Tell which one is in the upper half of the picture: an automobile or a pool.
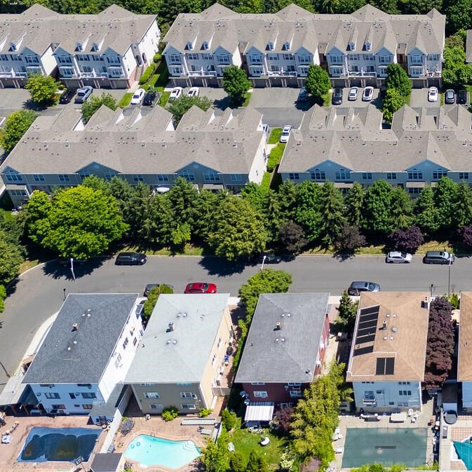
automobile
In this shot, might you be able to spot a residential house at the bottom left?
Yes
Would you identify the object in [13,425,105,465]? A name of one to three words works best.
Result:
swimming pool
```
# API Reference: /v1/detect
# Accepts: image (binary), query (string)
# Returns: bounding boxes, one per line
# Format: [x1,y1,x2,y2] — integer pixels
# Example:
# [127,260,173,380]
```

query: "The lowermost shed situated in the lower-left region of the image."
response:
[91,451,128,472]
